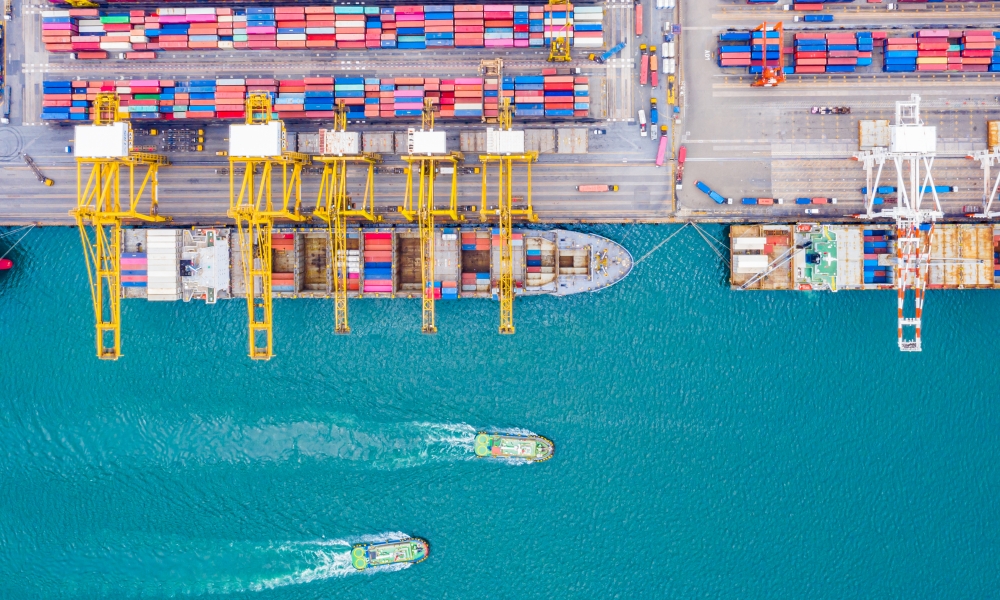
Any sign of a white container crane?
Yes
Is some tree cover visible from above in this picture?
No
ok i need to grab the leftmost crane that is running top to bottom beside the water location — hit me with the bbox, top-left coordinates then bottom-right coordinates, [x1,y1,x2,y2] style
[71,93,176,361]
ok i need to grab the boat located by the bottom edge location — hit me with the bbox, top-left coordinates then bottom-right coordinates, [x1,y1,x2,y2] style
[350,539,431,572]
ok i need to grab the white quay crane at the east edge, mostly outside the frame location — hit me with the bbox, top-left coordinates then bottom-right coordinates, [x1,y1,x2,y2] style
[964,148,1000,215]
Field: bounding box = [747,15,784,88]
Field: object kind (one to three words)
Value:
container crane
